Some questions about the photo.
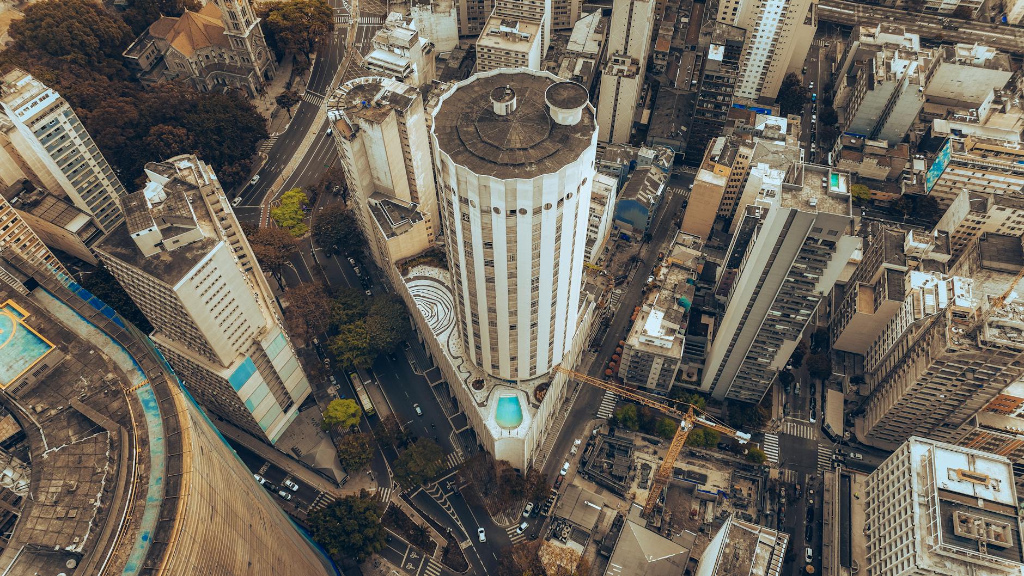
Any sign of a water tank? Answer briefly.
Yes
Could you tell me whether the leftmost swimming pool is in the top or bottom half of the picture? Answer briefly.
bottom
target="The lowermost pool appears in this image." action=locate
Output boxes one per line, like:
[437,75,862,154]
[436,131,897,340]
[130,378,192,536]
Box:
[496,394,522,429]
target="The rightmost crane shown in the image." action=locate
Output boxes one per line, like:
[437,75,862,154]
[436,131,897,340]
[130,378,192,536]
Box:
[964,265,1024,338]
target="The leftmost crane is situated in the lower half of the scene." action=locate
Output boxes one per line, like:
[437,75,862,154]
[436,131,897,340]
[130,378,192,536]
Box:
[553,365,748,524]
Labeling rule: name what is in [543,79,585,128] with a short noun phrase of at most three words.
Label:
water tank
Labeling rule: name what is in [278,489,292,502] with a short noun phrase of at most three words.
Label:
vehicle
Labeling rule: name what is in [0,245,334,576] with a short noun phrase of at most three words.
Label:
building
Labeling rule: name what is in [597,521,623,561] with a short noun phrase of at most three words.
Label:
shed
